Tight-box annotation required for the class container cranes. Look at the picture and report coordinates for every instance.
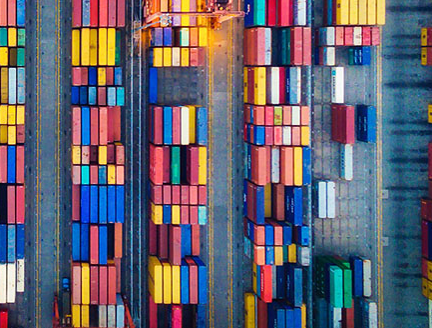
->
[54,293,137,328]
[142,0,245,26]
